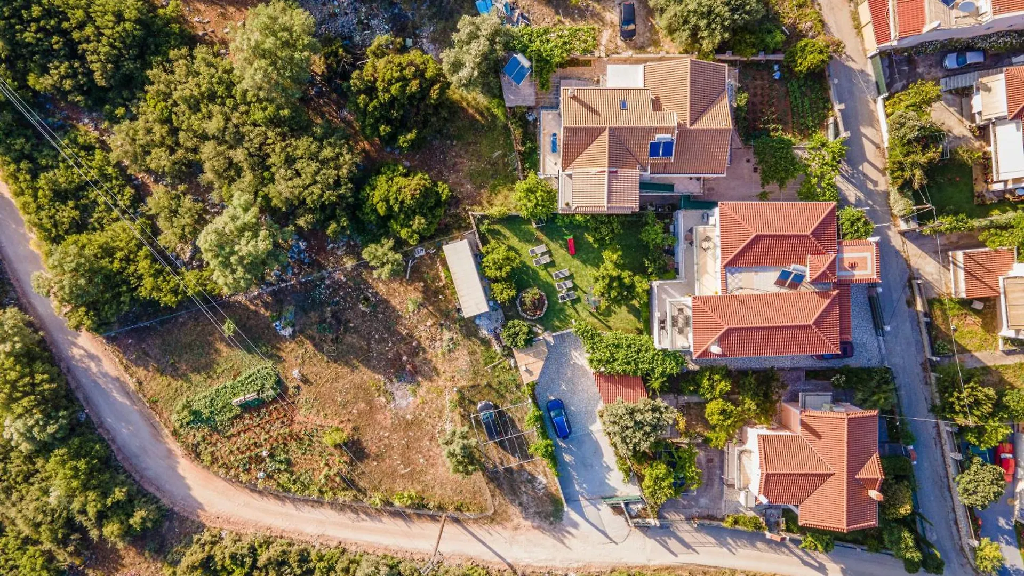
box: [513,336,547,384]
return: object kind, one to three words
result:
shed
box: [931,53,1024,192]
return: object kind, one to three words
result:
house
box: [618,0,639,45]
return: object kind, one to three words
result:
car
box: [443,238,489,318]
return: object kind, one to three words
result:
shed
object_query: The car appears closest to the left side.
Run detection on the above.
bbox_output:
[478,399,503,445]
